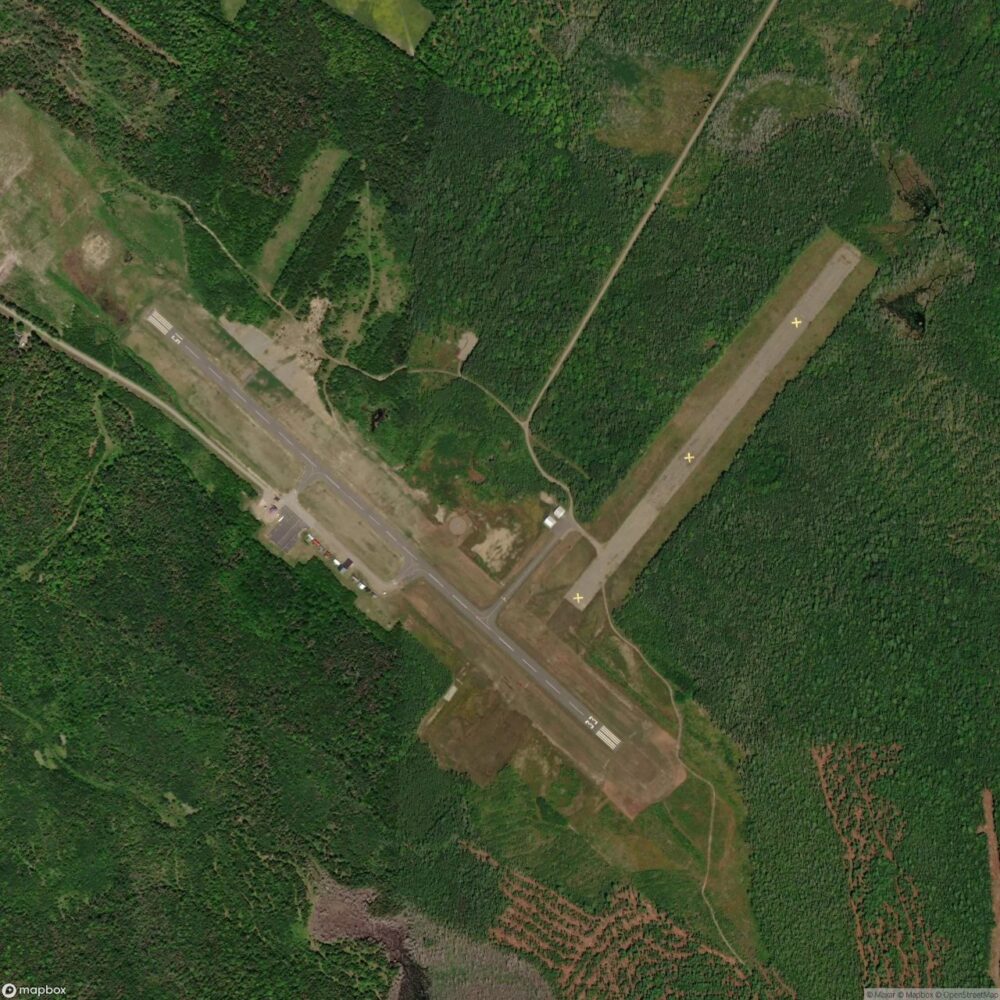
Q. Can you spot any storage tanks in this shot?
No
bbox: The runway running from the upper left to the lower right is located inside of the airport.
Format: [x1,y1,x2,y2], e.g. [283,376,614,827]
[145,308,624,753]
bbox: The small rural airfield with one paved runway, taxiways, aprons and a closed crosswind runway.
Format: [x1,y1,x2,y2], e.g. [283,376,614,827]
[142,244,860,756]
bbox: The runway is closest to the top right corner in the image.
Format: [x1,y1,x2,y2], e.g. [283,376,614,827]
[564,244,860,609]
